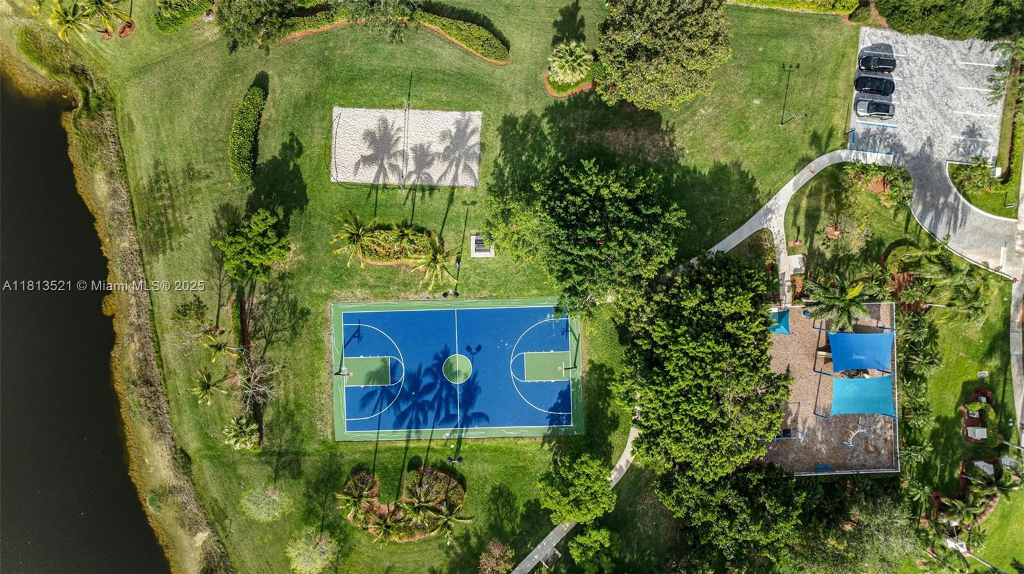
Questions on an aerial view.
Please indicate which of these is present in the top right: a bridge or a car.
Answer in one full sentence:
There is a car in the top right.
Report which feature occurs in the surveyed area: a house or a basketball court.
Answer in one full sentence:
It is a basketball court that can be seen here.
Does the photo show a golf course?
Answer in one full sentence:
No, no golf course is visible in the view.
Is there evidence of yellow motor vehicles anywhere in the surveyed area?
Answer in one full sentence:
No, the photo shows no yellow motor vehicle.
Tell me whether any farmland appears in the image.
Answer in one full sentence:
No, there is no farmland in the image.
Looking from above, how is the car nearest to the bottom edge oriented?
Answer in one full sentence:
The car nearest to the bottom edge is laid out from side to side.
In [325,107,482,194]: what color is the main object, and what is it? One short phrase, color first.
white sports court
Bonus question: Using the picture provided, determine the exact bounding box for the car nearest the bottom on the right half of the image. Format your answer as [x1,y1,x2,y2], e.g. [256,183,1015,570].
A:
[857,98,899,118]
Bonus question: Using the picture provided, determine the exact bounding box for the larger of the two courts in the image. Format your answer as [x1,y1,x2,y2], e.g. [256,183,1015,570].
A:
[330,298,584,442]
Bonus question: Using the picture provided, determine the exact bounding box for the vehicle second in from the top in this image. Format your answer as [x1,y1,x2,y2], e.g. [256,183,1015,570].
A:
[856,74,897,95]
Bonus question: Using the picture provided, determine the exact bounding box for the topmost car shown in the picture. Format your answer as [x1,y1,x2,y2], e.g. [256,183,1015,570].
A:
[860,51,901,72]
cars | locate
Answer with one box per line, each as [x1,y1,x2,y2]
[857,98,899,118]
[860,51,901,72]
[856,74,897,95]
